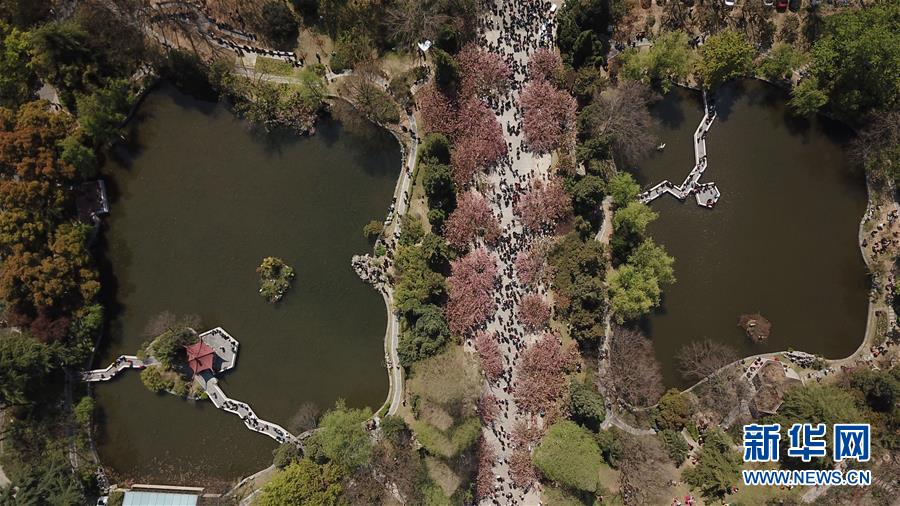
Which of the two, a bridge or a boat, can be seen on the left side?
bridge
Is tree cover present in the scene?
Yes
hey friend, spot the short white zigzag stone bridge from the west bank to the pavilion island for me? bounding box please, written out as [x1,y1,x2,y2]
[82,356,148,382]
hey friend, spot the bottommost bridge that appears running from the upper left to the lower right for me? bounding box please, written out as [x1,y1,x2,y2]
[202,376,307,457]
